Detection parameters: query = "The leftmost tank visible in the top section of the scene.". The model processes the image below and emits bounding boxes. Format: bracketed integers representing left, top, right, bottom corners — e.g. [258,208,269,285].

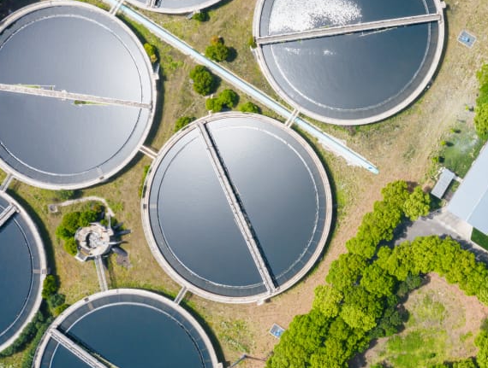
[0,0,167,190]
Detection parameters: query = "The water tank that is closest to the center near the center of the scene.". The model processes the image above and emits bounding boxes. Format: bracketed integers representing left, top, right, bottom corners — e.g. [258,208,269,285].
[142,110,335,306]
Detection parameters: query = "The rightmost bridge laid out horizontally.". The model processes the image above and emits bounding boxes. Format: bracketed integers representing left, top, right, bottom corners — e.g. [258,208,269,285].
[253,11,444,47]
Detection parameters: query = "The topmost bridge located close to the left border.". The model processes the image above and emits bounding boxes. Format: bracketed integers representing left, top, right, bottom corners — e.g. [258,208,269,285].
[0,82,158,112]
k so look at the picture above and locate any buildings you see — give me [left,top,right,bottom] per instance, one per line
[447,141,488,235]
[432,168,455,199]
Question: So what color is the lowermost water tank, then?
blue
